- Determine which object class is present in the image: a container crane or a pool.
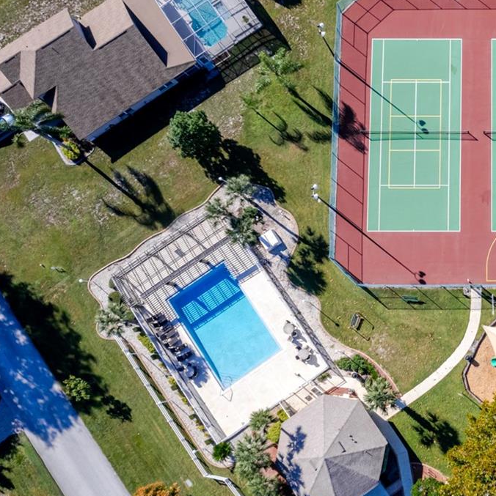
pool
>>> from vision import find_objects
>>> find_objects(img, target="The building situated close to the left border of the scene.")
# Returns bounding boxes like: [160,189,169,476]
[0,0,198,140]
